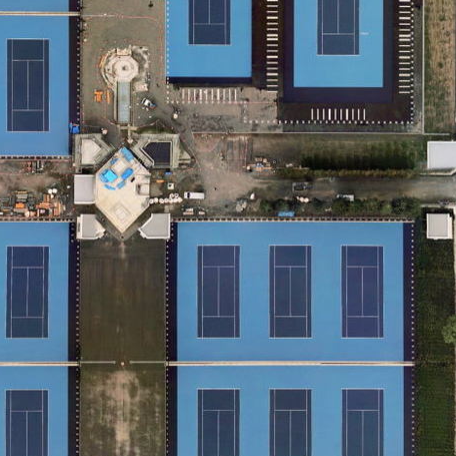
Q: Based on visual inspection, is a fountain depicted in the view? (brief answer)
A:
Yes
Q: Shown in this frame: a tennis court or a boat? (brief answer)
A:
tennis court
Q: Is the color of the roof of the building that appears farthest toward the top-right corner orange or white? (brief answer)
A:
white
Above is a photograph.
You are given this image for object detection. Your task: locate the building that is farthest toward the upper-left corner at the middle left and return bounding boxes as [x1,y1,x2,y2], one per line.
[74,175,94,204]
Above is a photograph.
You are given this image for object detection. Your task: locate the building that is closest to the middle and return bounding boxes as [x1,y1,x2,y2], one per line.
[138,213,170,239]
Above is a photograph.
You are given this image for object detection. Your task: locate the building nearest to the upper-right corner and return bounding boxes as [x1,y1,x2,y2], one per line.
[425,142,456,168]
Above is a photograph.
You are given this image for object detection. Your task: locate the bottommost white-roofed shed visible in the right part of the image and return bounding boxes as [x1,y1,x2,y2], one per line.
[427,213,453,239]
